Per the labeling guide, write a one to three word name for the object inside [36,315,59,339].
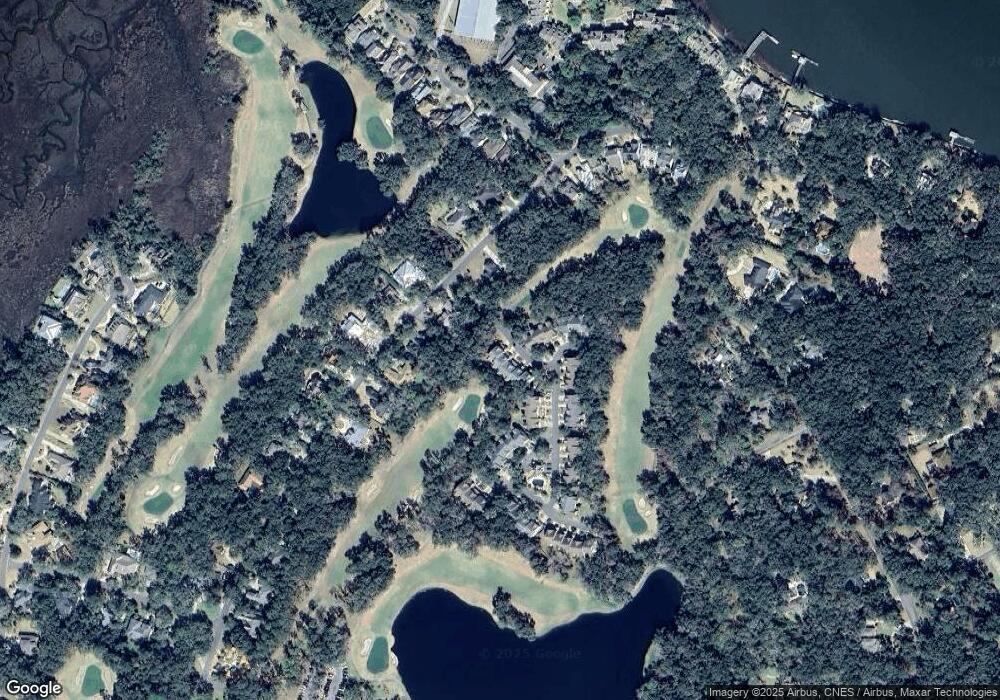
house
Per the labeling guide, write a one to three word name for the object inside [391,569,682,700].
pond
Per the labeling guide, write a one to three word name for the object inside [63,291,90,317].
house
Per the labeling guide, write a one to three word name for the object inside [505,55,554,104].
building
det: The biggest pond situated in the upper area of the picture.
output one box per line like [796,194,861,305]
[292,62,396,236]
